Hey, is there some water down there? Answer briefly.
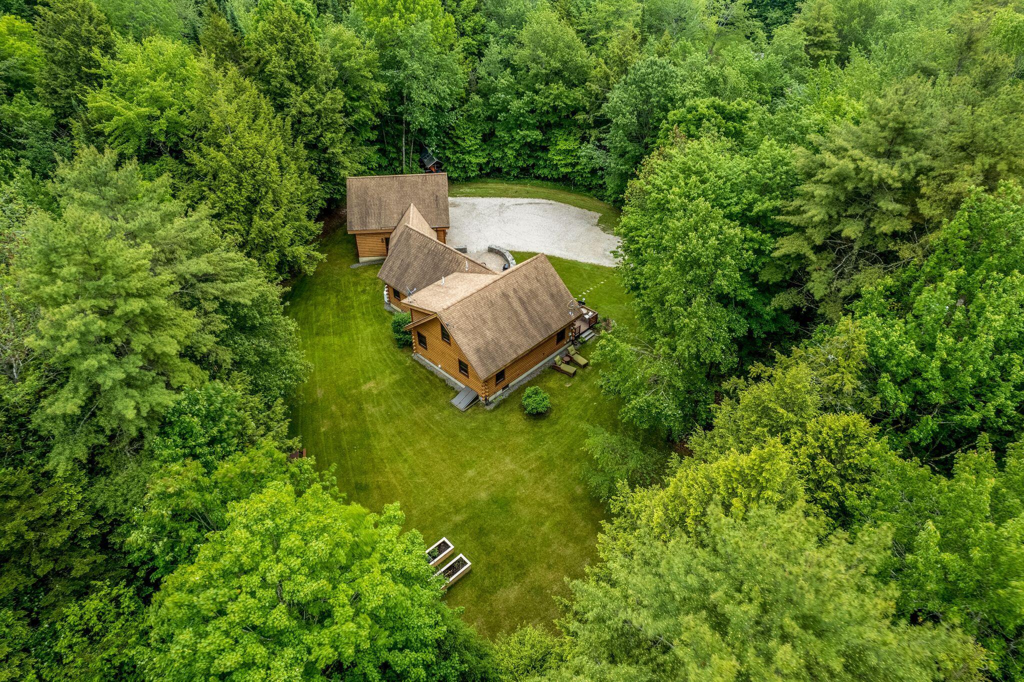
No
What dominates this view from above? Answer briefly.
trees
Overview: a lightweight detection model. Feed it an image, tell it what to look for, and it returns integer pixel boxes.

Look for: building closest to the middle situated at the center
[378,203,583,402]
